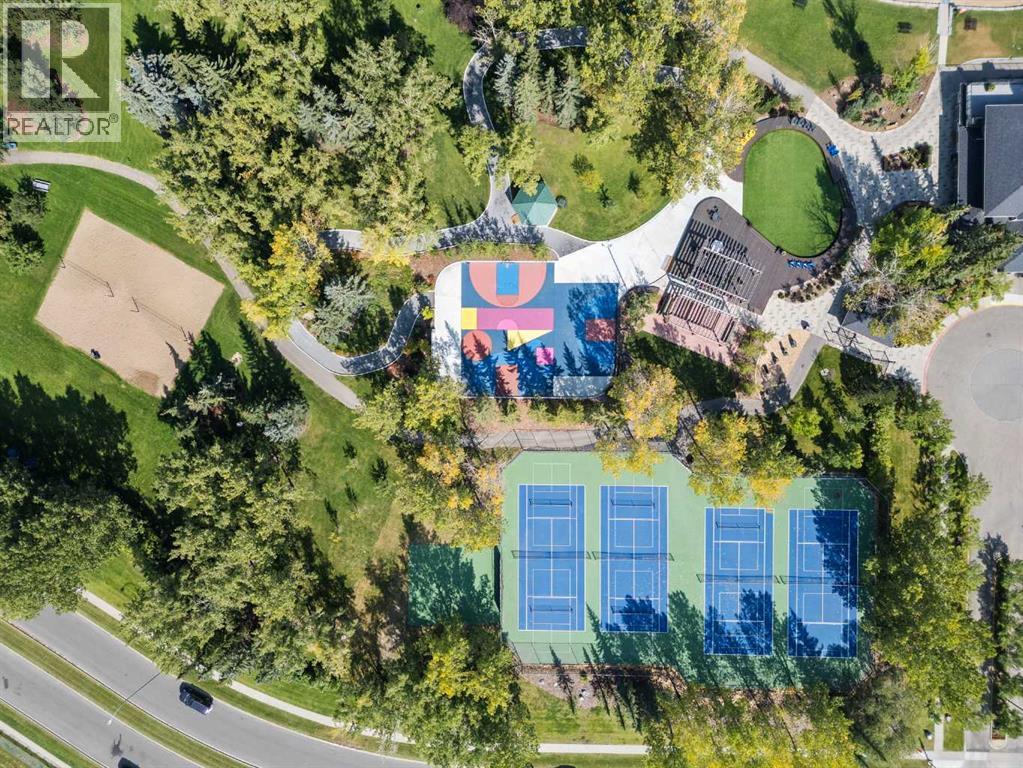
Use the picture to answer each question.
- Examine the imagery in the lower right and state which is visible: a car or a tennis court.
tennis court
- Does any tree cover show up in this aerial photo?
Yes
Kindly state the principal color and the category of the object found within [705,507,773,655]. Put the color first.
blue tennis court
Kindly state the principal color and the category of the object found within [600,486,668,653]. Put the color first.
blue tennis court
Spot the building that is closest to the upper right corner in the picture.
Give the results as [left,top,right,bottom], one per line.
[949,76,1023,224]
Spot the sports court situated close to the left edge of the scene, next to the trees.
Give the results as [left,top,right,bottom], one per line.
[35,208,225,398]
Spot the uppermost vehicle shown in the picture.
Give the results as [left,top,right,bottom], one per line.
[180,690,213,715]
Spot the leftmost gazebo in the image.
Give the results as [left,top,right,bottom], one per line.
[512,181,560,224]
